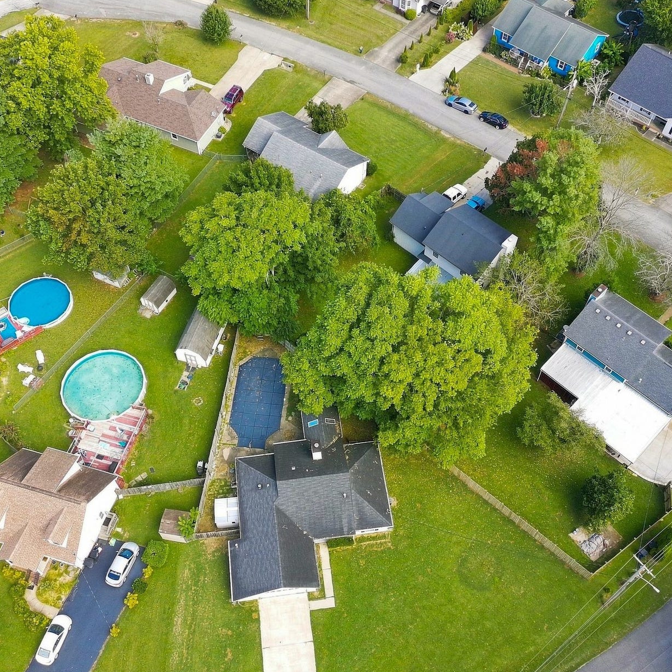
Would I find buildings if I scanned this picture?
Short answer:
Yes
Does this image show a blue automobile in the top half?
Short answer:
Yes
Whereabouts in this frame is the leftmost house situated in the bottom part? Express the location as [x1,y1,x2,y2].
[0,445,122,591]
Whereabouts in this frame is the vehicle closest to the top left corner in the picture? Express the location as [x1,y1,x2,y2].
[224,84,246,111]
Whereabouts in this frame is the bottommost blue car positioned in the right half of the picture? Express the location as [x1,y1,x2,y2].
[464,190,491,211]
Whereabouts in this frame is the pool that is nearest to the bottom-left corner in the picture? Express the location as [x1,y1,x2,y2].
[60,349,147,427]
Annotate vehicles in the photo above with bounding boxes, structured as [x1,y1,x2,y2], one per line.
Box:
[443,180,472,200]
[102,541,141,589]
[478,112,511,131]
[31,614,73,667]
[446,96,479,114]
[224,84,246,111]
[464,190,491,211]
[430,0,449,13]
